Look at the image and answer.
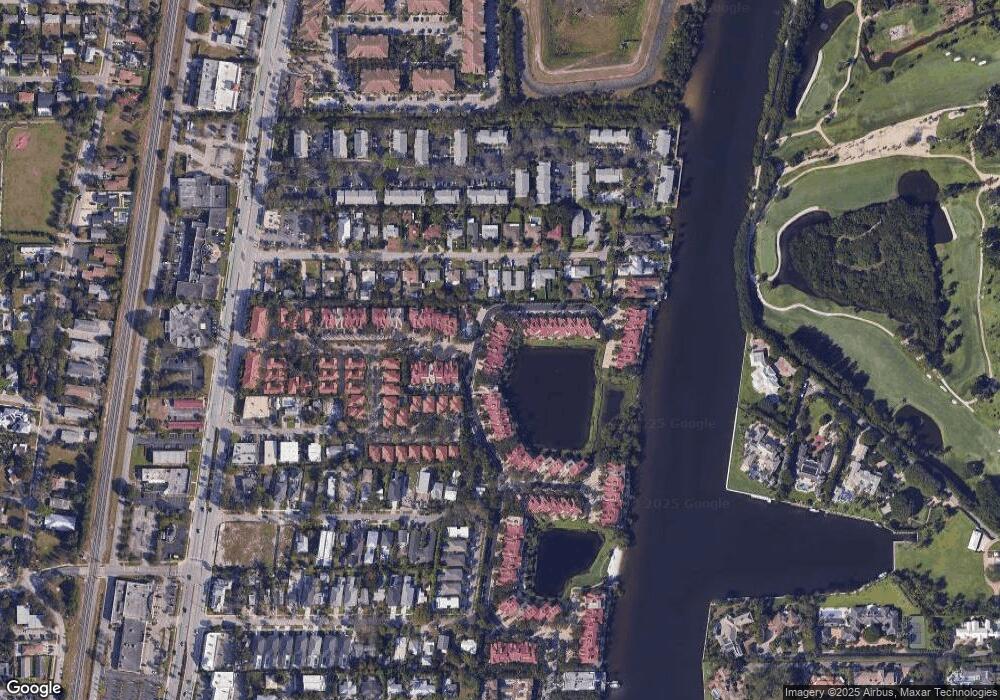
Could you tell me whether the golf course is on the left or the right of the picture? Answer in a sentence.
You can find the golf course on the right side of the picture.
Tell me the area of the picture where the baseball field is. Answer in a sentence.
The baseball field sits in the top left section of the image.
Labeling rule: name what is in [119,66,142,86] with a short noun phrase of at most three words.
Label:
house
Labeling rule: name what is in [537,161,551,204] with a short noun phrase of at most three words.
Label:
building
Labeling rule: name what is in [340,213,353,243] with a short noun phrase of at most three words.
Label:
house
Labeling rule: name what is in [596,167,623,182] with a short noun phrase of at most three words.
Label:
building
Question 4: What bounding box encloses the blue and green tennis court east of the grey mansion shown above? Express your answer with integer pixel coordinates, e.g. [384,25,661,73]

[910,616,927,649]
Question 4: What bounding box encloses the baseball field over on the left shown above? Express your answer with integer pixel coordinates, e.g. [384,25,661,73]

[0,124,64,231]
